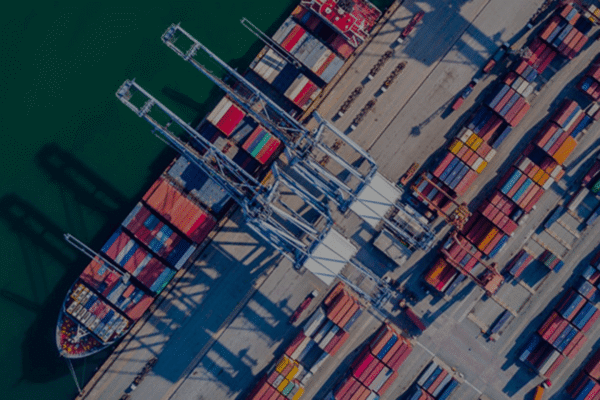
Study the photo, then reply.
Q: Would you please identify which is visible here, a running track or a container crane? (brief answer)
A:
container crane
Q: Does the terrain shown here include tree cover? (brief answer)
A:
No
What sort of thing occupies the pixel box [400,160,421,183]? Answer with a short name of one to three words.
work vehicle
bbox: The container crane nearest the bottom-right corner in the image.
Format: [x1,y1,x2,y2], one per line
[430,234,501,293]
